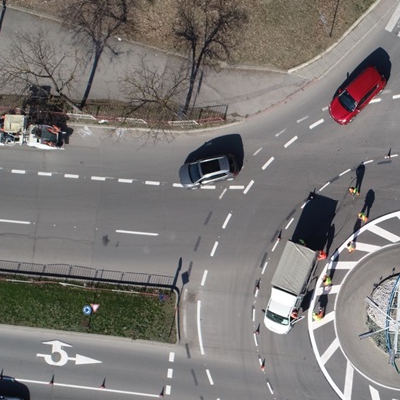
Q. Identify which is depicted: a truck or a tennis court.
truck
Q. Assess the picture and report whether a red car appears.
Yes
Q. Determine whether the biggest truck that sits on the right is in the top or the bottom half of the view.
bottom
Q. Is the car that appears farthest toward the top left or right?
right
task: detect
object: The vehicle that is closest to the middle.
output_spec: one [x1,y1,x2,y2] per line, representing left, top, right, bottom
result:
[178,151,239,190]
